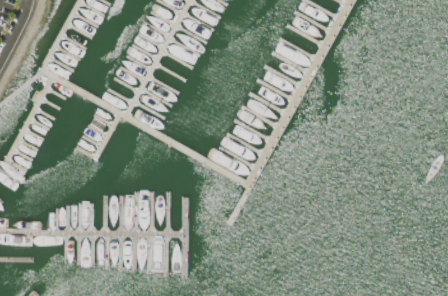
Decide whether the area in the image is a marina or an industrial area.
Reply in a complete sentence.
This looks like a marina.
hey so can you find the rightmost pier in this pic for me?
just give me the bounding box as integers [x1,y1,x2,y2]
[226,0,356,224]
